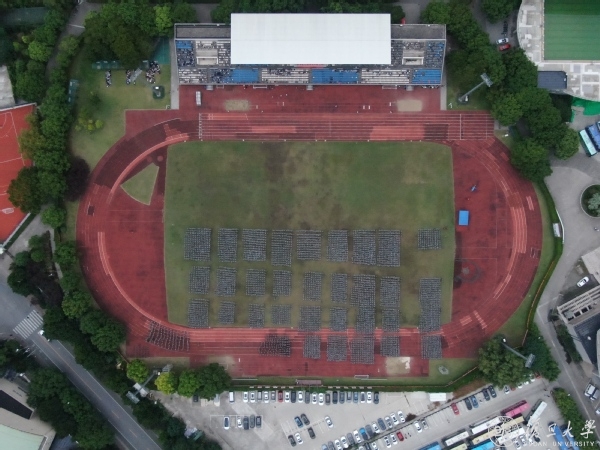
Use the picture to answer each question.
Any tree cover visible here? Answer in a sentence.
Yes, tree cover shows up in the scene.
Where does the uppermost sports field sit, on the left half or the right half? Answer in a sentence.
The uppermost sports field is on the right side of the image.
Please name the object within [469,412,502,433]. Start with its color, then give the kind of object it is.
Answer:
white bus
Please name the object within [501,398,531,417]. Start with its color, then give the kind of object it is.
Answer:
pink vehicle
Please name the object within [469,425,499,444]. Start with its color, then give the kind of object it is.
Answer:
white vehicle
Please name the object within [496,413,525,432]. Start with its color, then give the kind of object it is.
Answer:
white vehicle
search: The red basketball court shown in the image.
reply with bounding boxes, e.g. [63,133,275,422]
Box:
[0,107,39,243]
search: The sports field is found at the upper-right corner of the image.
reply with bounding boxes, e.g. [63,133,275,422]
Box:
[540,0,600,63]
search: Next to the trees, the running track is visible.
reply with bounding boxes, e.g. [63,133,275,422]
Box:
[76,86,542,377]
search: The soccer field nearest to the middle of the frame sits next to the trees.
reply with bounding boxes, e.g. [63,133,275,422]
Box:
[165,141,455,328]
